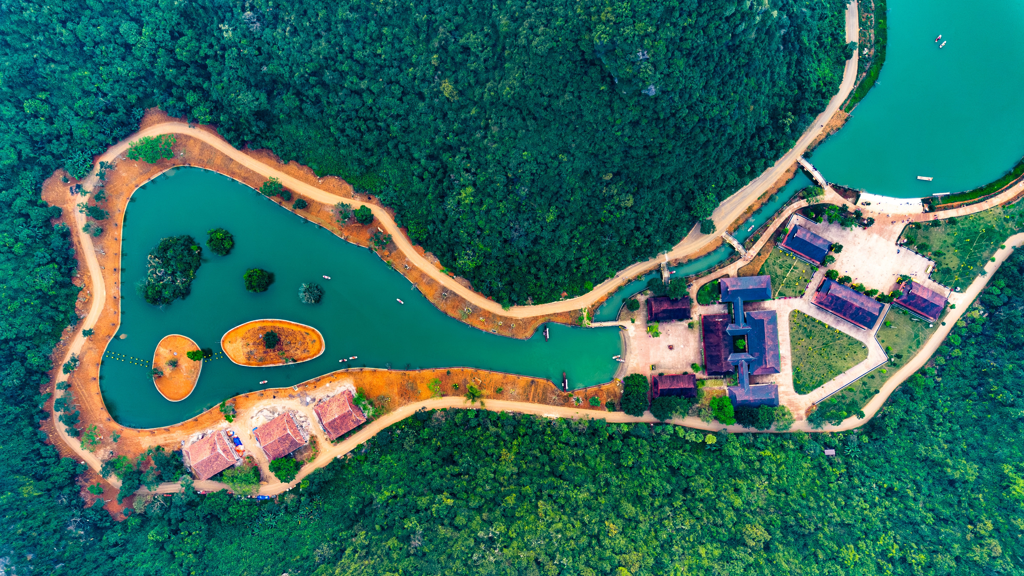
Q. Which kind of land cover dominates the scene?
trees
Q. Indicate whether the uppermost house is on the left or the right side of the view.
right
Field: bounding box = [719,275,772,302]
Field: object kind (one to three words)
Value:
house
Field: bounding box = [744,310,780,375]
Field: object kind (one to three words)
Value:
building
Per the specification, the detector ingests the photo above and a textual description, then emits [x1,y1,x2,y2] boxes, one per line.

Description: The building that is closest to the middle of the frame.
[647,296,691,321]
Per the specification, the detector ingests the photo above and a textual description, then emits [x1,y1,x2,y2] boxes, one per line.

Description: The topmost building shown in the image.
[781,224,833,264]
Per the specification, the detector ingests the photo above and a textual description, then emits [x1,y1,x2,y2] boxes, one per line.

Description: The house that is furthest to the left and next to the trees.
[184,428,242,480]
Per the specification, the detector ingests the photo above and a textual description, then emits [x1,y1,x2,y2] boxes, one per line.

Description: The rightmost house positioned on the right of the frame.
[893,283,948,320]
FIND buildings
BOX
[744,310,780,375]
[728,385,780,410]
[719,275,772,302]
[313,389,366,441]
[653,375,696,398]
[647,296,691,321]
[253,410,311,463]
[893,283,948,320]
[184,428,242,480]
[811,276,884,330]
[781,224,833,264]
[702,313,735,377]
